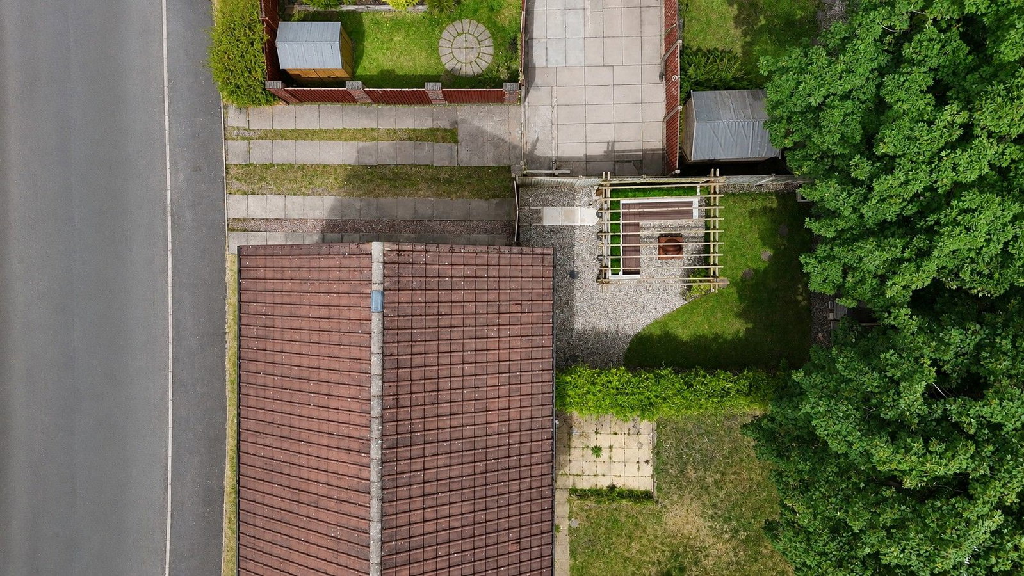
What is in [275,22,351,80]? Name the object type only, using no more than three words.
shed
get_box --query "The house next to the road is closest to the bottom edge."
[235,241,557,576]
